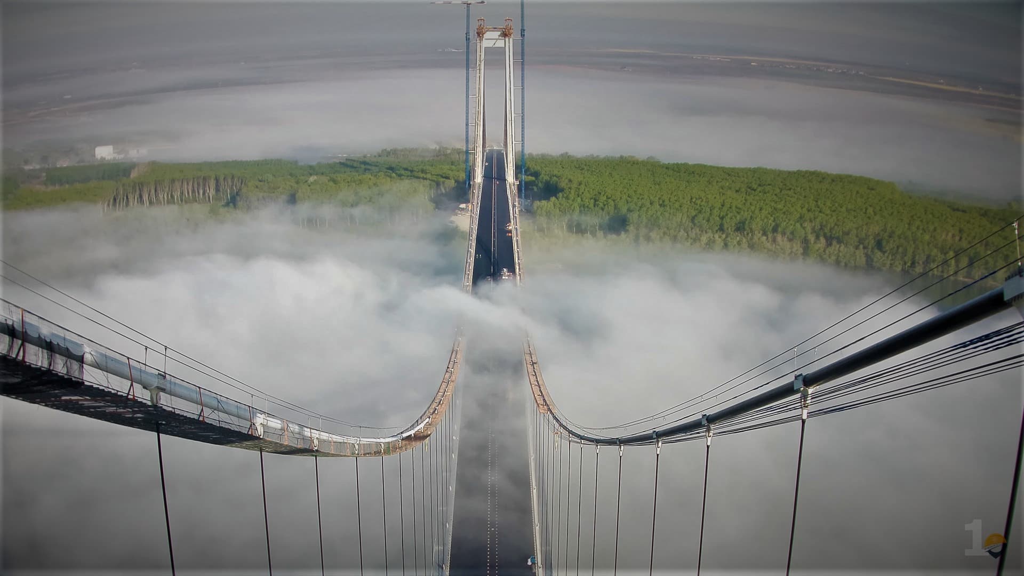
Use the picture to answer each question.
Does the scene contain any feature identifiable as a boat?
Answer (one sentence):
No, there isn't any boat down there.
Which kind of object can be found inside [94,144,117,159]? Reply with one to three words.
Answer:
building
